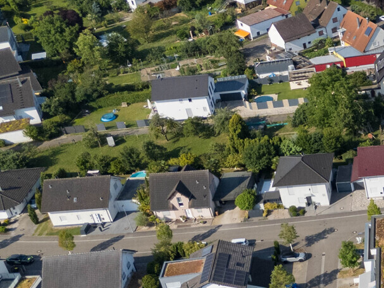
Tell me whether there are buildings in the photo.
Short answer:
Yes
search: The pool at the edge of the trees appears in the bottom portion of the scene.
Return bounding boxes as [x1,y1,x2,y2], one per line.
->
[126,168,152,183]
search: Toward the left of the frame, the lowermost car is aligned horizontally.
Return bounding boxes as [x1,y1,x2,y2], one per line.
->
[6,252,36,265]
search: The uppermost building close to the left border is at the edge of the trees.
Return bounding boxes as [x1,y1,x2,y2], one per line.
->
[0,25,21,47]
